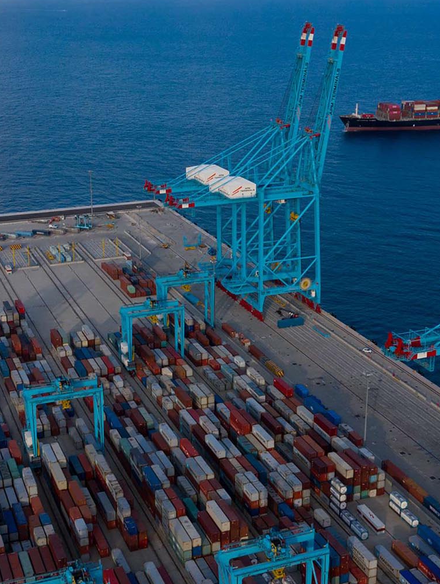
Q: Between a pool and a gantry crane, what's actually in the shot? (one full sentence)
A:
The one in the frame is a gantry crane.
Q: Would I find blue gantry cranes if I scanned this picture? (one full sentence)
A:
Yes, there's a blue gantry crane down there.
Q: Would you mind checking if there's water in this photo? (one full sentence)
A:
Yes, there's water in this view.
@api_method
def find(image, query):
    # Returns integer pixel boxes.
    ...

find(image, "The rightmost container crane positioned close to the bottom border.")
[222,522,336,584]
